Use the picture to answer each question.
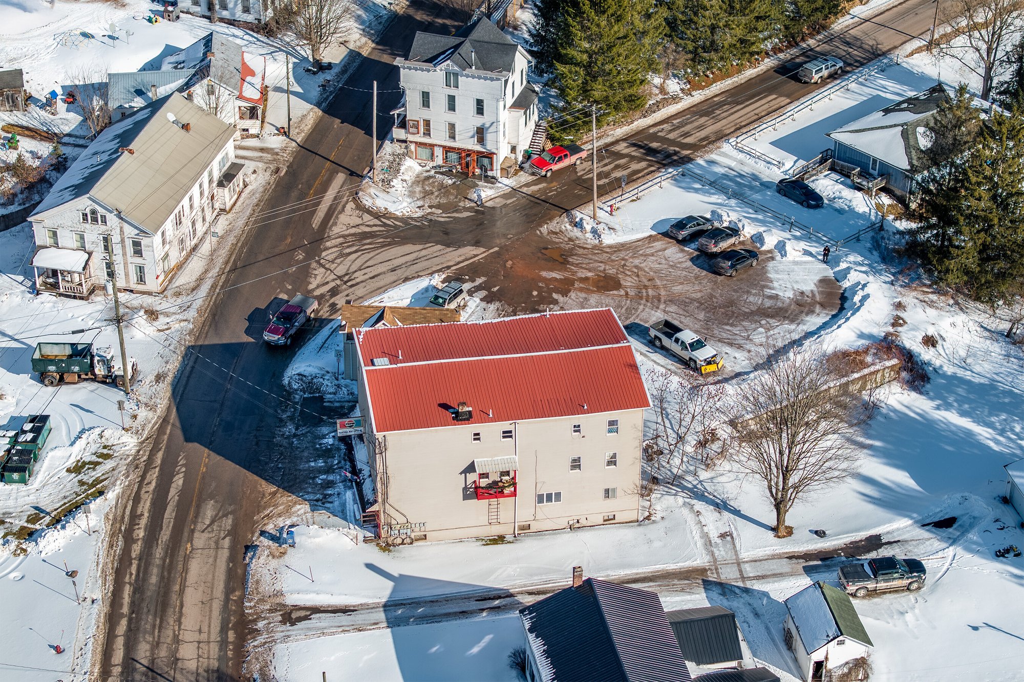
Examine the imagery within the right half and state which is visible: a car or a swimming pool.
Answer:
car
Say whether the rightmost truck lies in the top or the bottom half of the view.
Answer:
bottom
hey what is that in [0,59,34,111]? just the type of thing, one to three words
barn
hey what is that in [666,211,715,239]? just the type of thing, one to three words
car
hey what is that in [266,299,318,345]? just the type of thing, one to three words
truck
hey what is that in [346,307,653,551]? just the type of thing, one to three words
building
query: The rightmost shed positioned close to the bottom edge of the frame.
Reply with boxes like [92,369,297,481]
[785,582,875,682]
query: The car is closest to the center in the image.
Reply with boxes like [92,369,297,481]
[421,280,472,316]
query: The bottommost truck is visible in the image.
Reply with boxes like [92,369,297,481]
[837,557,928,598]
